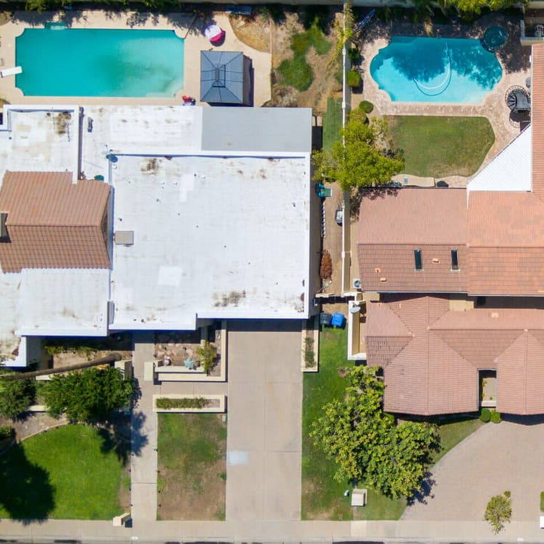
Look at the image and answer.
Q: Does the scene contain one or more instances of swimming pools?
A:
Yes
